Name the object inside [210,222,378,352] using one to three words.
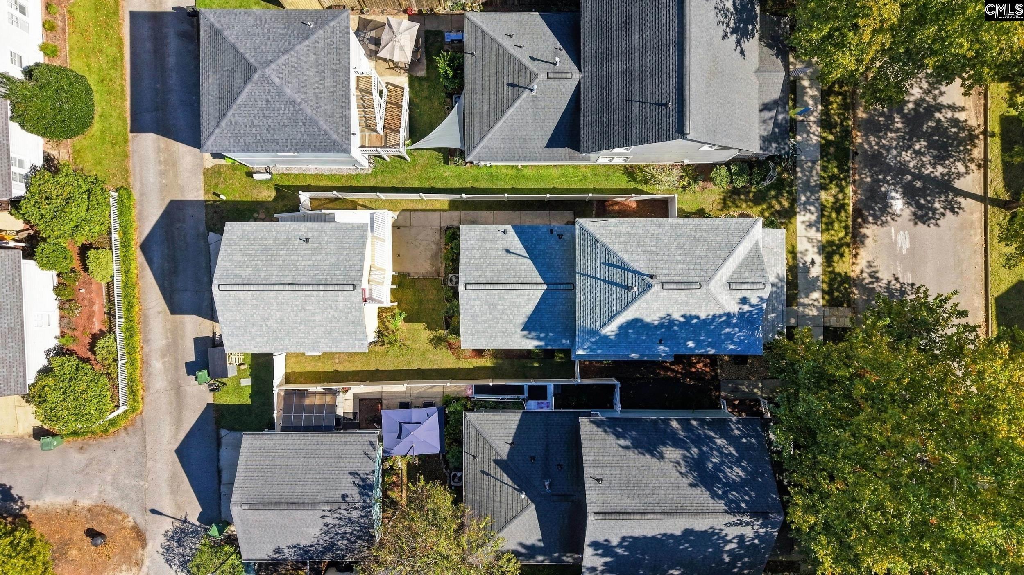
building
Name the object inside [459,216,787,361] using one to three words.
house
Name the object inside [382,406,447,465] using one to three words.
umbrella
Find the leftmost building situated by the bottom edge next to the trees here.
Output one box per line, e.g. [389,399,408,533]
[229,429,384,564]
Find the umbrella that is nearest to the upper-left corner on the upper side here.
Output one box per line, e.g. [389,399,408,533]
[377,16,420,64]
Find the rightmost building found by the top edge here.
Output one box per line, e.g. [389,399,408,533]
[463,0,790,170]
